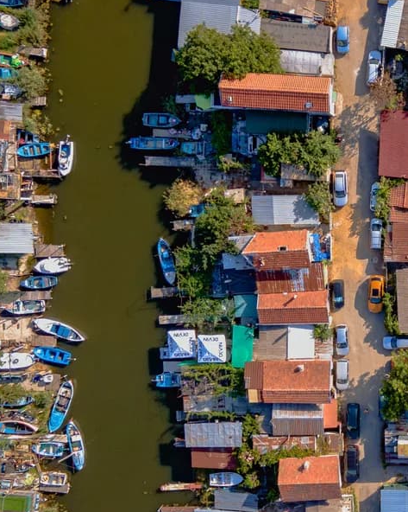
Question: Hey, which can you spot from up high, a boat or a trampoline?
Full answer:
Visible in the photo is a boat.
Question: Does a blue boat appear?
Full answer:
Yes, you can see a blue boat in this photo.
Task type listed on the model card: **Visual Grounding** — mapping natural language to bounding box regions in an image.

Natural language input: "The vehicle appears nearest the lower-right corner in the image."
[344,445,361,483]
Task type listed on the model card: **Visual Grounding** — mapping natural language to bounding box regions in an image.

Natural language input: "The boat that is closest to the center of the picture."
[156,238,177,285]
